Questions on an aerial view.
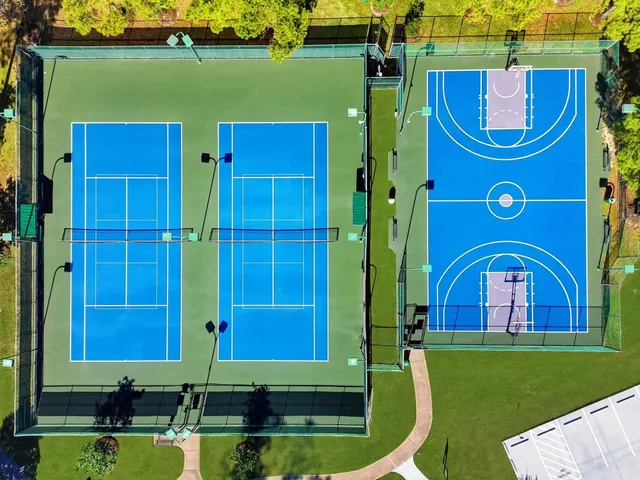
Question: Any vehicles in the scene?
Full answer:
No, I find no vehicle anywhere in the image.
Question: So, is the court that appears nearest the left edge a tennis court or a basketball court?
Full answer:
What you see as the court that appears nearest the left edge is a tennis court.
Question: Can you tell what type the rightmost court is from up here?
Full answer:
I'd identify the rightmost court as a basketball court.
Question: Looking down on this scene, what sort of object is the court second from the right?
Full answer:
Specifically, the court second from the right is a tennis court.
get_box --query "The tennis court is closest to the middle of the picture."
[218,123,328,361]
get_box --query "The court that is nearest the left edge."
[71,123,181,361]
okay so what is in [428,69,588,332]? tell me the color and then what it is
blue basketball court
